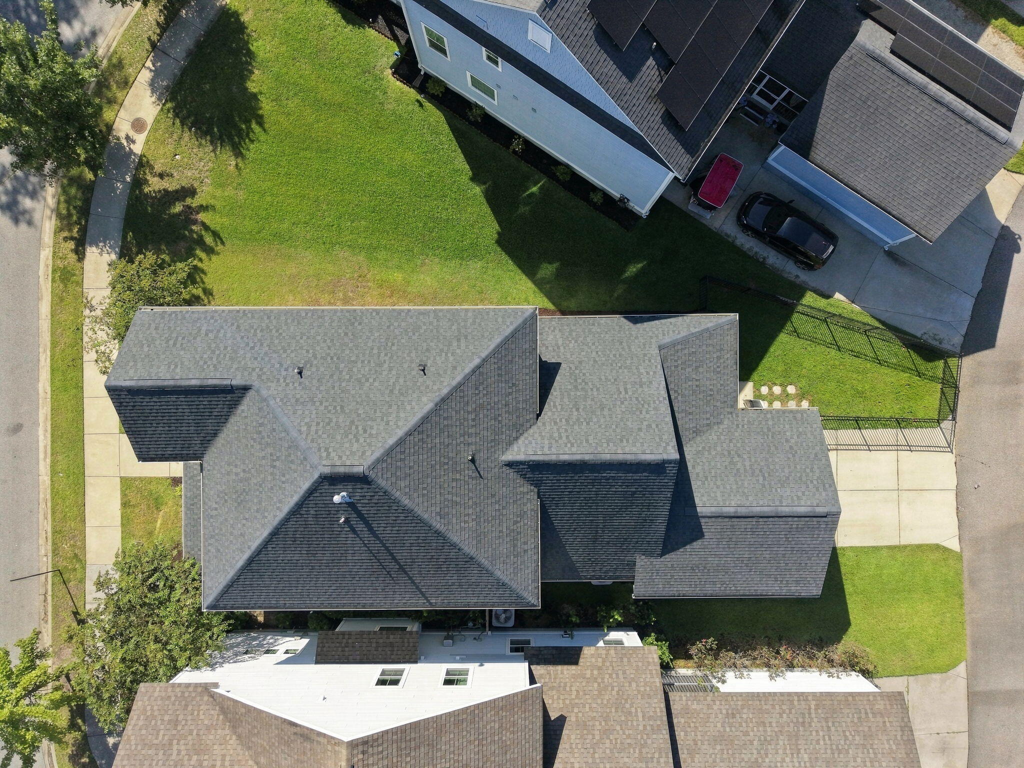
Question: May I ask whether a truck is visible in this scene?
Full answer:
No, there's no truck here.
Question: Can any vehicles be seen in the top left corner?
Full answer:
No, in the top left corner there is no vehicle.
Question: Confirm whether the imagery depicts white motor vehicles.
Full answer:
No, I can see no white motor vehicle in this picture.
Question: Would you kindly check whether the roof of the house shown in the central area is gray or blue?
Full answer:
From above, the roof of the house shown in the central area appears gray.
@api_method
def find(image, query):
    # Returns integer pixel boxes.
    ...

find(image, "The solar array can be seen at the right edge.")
[847,0,1024,130]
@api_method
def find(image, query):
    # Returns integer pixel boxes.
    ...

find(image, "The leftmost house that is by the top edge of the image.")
[387,0,813,218]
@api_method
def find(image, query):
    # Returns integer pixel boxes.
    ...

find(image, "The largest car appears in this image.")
[735,191,844,274]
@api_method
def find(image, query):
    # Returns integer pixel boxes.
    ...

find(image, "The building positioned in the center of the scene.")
[107,302,843,612]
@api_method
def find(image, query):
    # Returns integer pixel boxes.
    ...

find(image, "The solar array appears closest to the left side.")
[587,0,773,131]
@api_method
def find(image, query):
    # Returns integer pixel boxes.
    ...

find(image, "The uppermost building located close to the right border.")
[737,0,1024,255]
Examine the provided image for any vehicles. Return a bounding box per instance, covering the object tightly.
[735,191,844,274]
[684,152,744,224]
